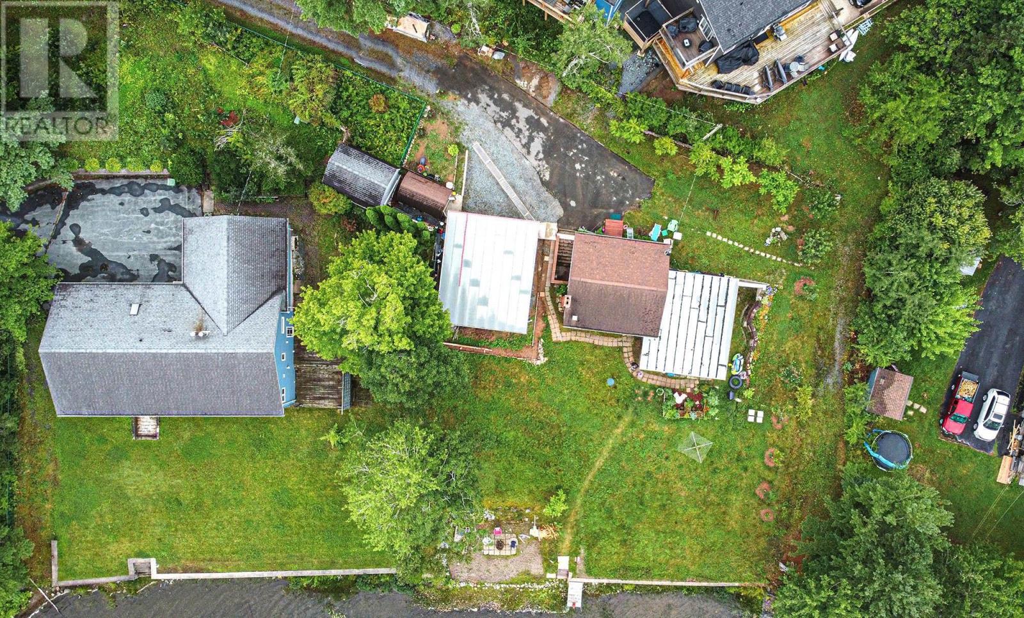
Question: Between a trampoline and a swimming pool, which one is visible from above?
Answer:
trampoline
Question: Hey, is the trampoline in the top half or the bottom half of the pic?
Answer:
bottom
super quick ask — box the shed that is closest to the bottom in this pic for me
[860,368,914,420]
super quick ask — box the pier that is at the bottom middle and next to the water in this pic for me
[567,583,583,608]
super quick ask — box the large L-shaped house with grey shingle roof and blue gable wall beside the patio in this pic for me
[39,215,295,417]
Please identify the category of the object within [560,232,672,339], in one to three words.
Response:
house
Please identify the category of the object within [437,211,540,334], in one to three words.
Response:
building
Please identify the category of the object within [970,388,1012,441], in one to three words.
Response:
car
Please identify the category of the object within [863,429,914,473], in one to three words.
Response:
trampoline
